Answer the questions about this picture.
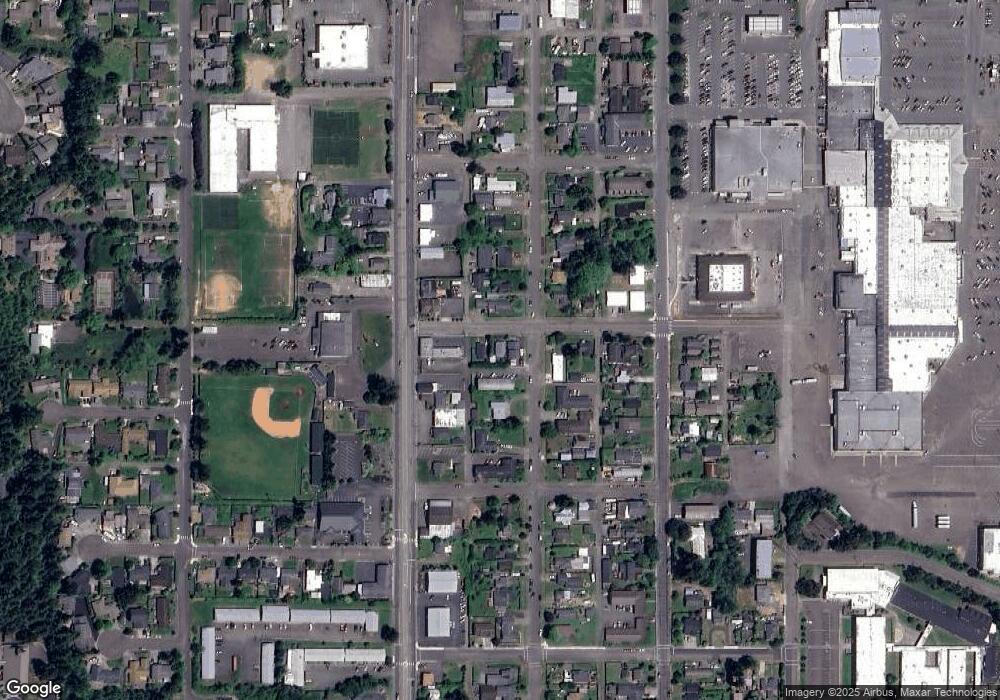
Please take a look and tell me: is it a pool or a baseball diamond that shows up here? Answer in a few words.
baseball diamond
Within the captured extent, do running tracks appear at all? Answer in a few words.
No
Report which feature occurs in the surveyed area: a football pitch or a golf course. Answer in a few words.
football pitch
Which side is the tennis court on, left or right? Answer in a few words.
left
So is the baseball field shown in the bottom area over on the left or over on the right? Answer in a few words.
left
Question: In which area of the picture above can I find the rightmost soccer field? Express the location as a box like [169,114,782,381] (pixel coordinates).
[311,103,389,180]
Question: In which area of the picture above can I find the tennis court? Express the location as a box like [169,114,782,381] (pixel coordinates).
[94,269,115,313]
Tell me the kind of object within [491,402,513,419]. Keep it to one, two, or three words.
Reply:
house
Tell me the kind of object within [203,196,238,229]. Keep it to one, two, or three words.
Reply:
sports field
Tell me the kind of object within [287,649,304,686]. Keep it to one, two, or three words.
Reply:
building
